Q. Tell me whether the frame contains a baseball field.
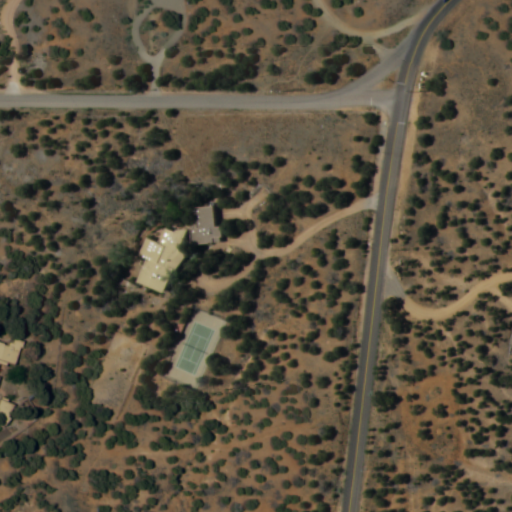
No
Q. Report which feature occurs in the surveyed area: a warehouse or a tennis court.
tennis court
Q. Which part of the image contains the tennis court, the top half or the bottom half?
bottom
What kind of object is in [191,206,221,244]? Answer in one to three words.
house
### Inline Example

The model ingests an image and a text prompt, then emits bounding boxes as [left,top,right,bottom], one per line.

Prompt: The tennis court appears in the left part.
[171,311,226,388]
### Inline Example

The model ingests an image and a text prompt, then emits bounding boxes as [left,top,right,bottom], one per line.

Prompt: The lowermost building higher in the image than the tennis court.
[136,228,186,294]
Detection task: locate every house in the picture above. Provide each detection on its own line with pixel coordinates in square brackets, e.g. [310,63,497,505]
[0,397,15,426]
[136,228,186,294]
[191,206,221,244]
[0,340,24,366]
